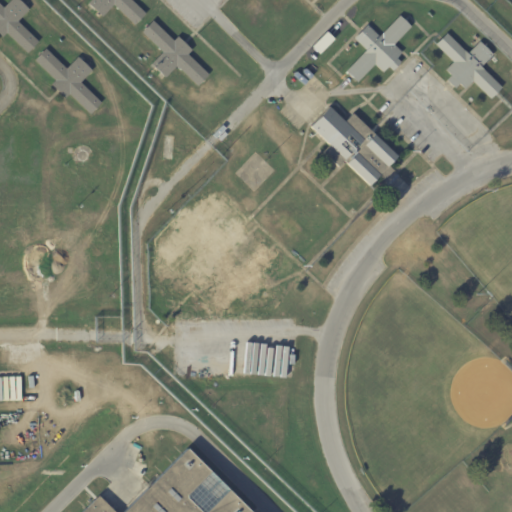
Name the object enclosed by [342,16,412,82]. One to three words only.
building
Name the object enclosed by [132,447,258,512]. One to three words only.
building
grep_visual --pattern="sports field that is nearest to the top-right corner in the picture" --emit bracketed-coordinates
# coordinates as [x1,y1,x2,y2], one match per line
[438,185,512,316]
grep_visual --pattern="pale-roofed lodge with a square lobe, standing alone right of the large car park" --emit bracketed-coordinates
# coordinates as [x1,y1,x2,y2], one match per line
[436,32,502,99]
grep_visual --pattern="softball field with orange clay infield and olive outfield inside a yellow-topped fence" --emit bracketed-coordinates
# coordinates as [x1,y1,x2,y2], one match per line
[346,268,512,512]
